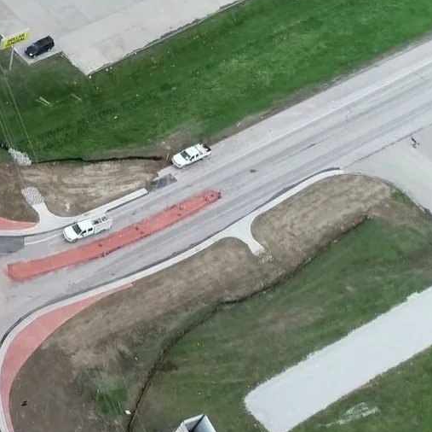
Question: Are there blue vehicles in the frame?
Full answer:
No, I can't see a single blue vehicle in this photo.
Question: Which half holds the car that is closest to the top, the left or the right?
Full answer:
The car that is closest to the top sits on the left side.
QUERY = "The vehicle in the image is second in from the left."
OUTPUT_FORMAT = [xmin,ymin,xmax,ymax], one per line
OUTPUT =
[63,211,115,239]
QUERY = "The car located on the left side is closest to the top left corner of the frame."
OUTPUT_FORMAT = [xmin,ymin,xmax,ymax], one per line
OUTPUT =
[22,33,56,59]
